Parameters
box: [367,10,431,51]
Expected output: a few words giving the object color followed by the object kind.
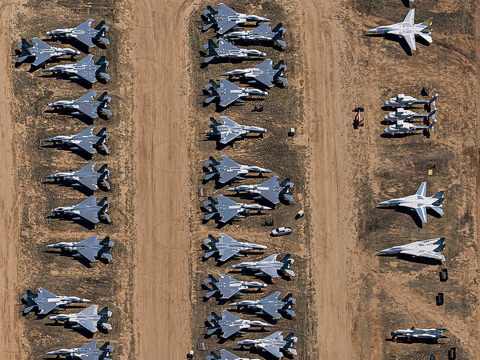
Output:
white airplane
